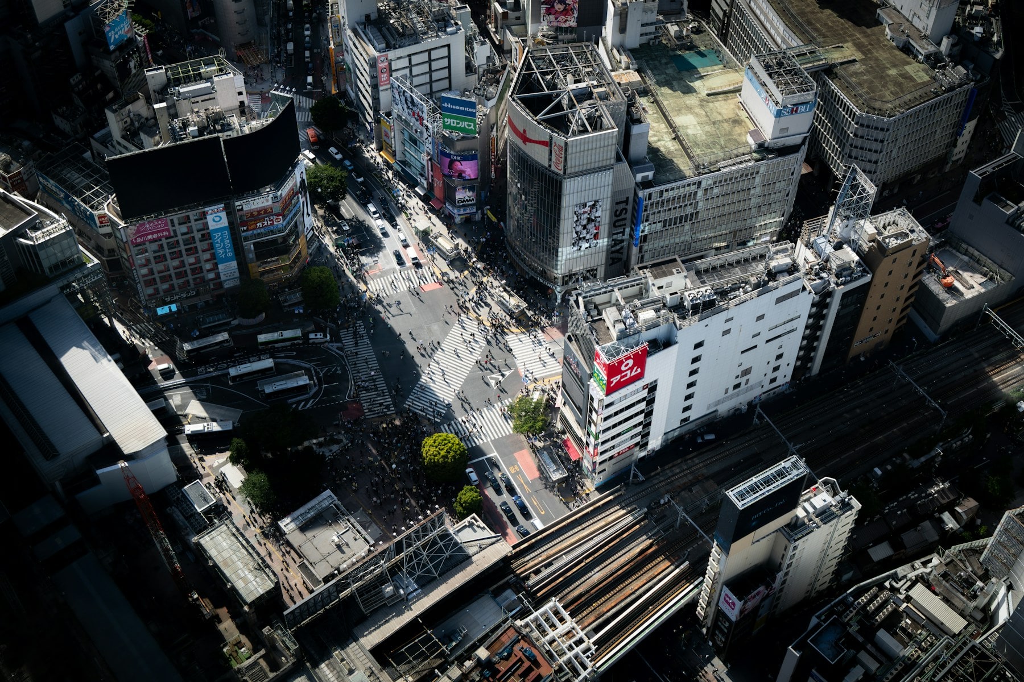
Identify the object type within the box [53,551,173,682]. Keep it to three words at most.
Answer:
shed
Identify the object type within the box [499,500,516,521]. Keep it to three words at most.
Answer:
car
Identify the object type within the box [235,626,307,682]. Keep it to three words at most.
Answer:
building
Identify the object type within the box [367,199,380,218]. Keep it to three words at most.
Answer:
vehicle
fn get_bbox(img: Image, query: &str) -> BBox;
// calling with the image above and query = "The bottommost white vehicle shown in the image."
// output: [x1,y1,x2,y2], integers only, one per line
[530,516,545,530]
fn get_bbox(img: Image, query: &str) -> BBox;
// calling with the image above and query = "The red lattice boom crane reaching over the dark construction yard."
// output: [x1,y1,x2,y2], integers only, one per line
[117,462,221,634]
